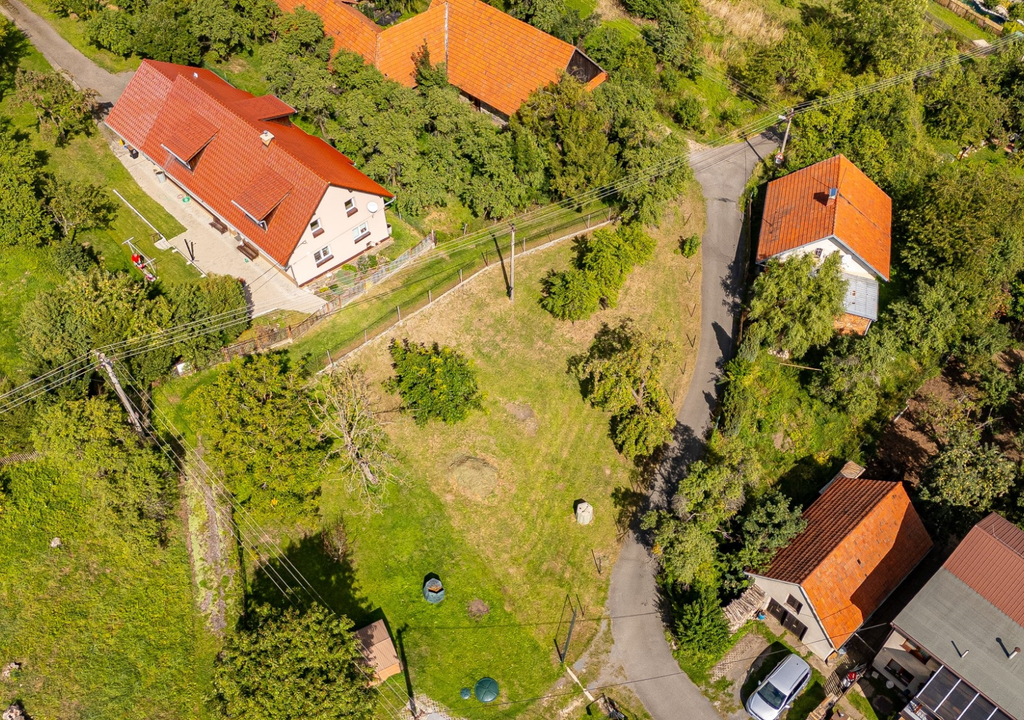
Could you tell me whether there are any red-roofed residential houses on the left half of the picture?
Yes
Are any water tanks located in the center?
No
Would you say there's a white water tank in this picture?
No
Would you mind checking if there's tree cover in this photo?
Yes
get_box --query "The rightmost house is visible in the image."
[876,511,1024,720]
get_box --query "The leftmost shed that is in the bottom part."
[355,619,401,685]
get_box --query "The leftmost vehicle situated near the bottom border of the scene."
[744,651,813,720]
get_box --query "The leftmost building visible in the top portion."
[104,59,399,289]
